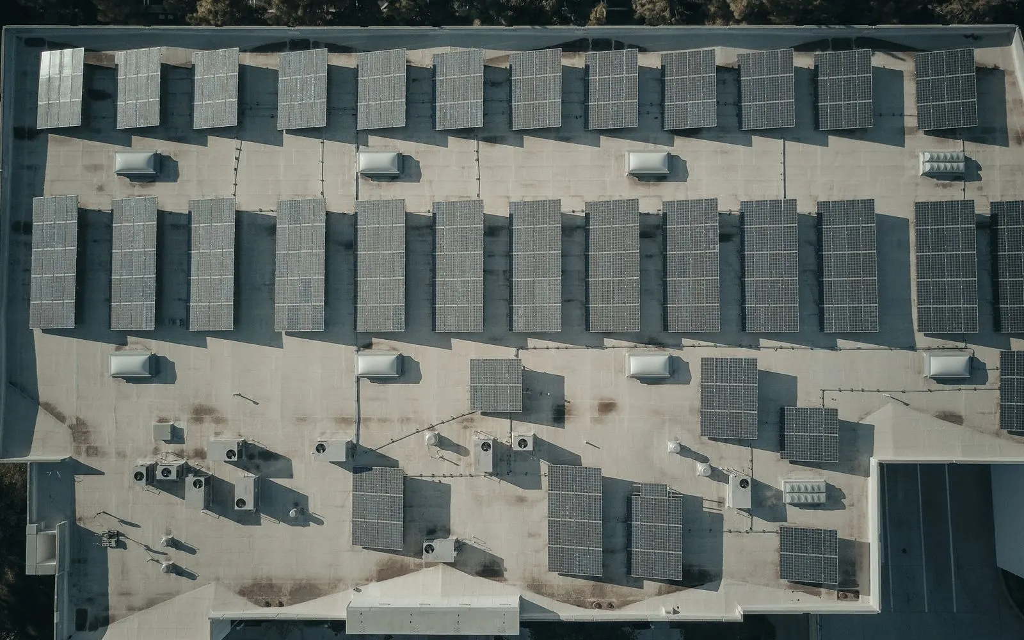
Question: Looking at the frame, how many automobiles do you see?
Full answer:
Not a single automobile can be seen.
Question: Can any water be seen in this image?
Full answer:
No, no water is visible.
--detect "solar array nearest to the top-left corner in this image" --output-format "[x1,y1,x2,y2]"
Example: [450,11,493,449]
[38,46,87,129]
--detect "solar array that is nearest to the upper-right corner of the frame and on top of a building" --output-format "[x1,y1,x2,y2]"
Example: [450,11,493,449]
[916,48,978,131]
